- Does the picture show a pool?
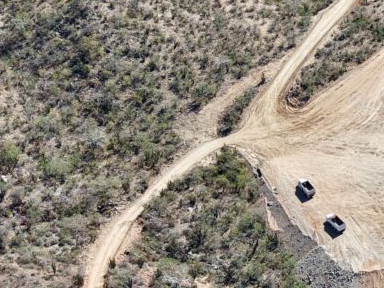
No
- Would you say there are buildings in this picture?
No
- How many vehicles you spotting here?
2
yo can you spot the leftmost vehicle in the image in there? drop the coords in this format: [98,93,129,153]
[293,180,314,202]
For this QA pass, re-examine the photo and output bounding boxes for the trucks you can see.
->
[293,180,314,202]
[322,214,343,237]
